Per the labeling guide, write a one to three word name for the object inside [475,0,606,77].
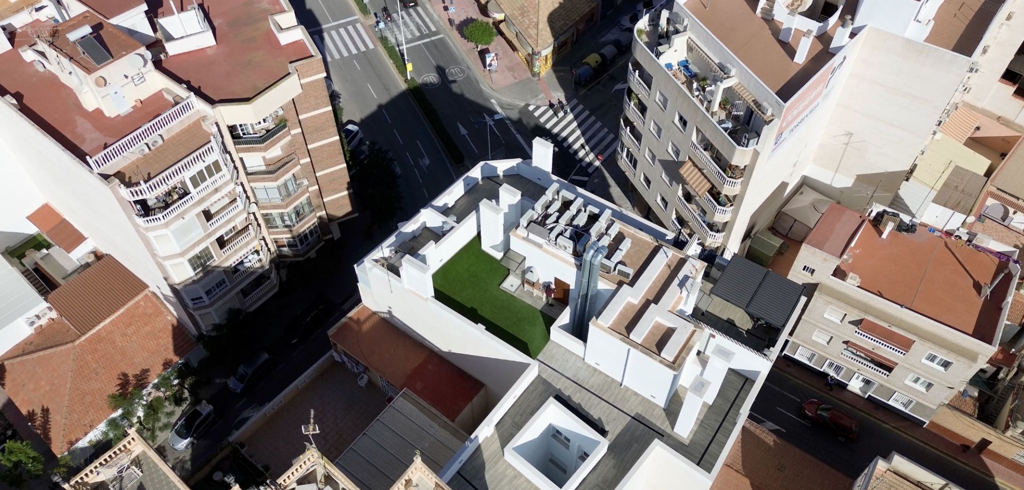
building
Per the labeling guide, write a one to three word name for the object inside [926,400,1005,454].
house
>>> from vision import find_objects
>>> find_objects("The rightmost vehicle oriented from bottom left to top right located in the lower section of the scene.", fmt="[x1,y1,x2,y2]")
[278,297,330,346]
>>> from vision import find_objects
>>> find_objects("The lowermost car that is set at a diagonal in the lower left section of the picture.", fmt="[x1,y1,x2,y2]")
[165,392,219,453]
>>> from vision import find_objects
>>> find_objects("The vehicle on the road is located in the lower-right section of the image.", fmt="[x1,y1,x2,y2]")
[798,394,866,443]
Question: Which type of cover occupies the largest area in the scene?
buildings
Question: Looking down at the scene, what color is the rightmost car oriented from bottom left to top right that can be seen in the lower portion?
black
